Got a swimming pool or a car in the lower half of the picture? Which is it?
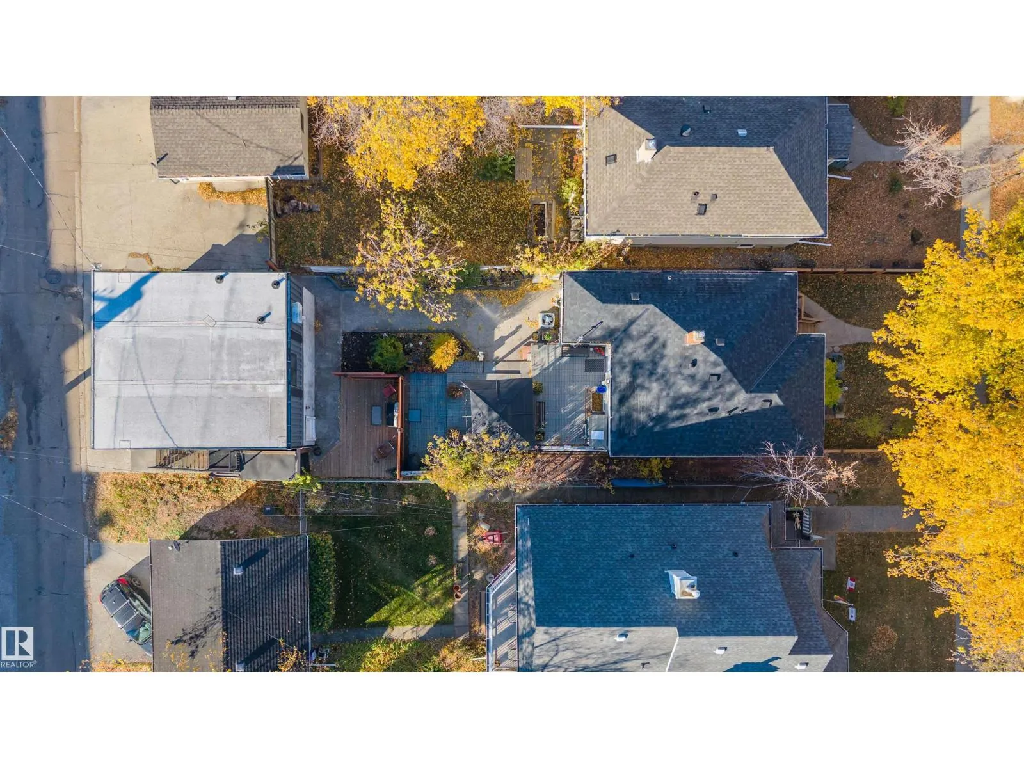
car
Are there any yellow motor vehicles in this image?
No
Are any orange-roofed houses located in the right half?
No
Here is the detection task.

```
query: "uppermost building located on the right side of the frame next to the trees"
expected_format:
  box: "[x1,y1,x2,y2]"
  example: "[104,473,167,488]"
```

[584,92,851,248]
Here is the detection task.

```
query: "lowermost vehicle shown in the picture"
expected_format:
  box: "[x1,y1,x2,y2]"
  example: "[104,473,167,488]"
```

[98,574,149,654]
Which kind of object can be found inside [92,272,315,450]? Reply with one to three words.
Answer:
building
